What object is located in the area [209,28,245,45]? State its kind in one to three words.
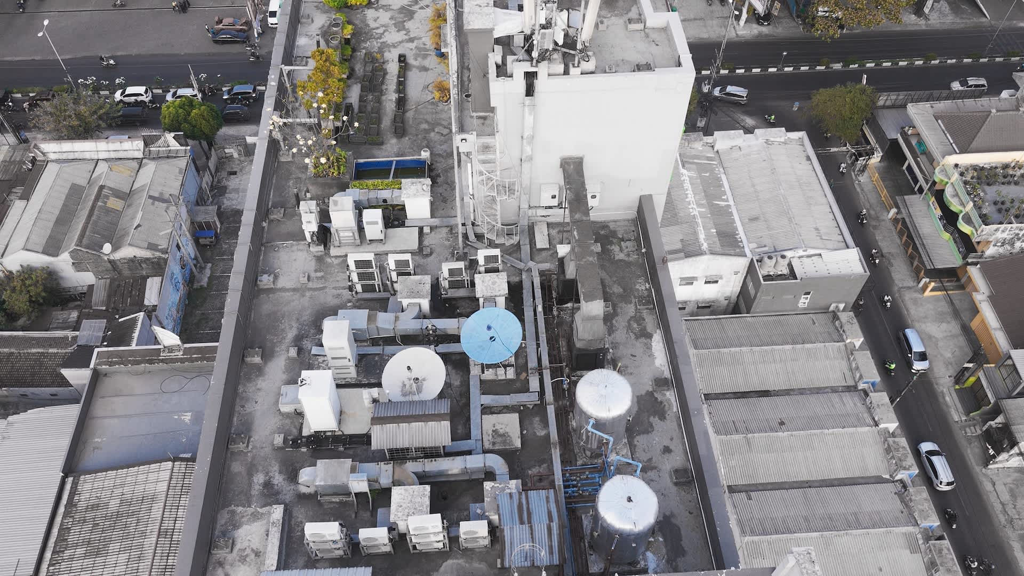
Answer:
car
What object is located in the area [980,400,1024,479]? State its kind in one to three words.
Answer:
house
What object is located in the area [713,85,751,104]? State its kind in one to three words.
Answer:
car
